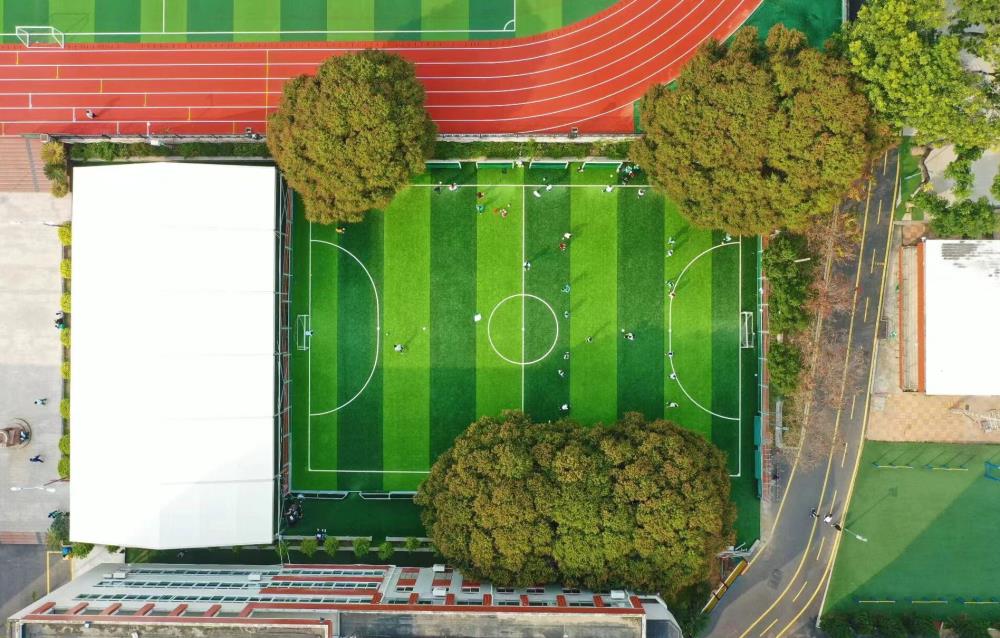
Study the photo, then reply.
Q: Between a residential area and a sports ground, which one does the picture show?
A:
sports ground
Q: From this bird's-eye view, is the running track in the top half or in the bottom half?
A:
top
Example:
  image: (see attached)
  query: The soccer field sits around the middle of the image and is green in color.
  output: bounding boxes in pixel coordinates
[290,166,758,492]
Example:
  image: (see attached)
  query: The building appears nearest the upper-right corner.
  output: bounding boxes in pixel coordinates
[883,236,1000,396]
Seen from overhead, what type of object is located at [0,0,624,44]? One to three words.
soccer field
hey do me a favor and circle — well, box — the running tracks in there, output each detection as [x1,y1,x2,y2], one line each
[0,0,767,141]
